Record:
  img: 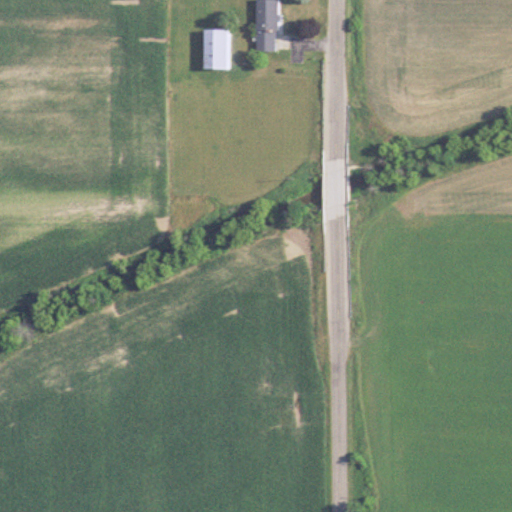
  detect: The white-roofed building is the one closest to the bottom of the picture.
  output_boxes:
[204,30,230,71]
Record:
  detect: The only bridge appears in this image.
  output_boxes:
[322,144,350,238]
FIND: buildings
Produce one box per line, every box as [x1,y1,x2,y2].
[204,30,230,71]
[256,0,283,50]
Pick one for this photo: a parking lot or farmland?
farmland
